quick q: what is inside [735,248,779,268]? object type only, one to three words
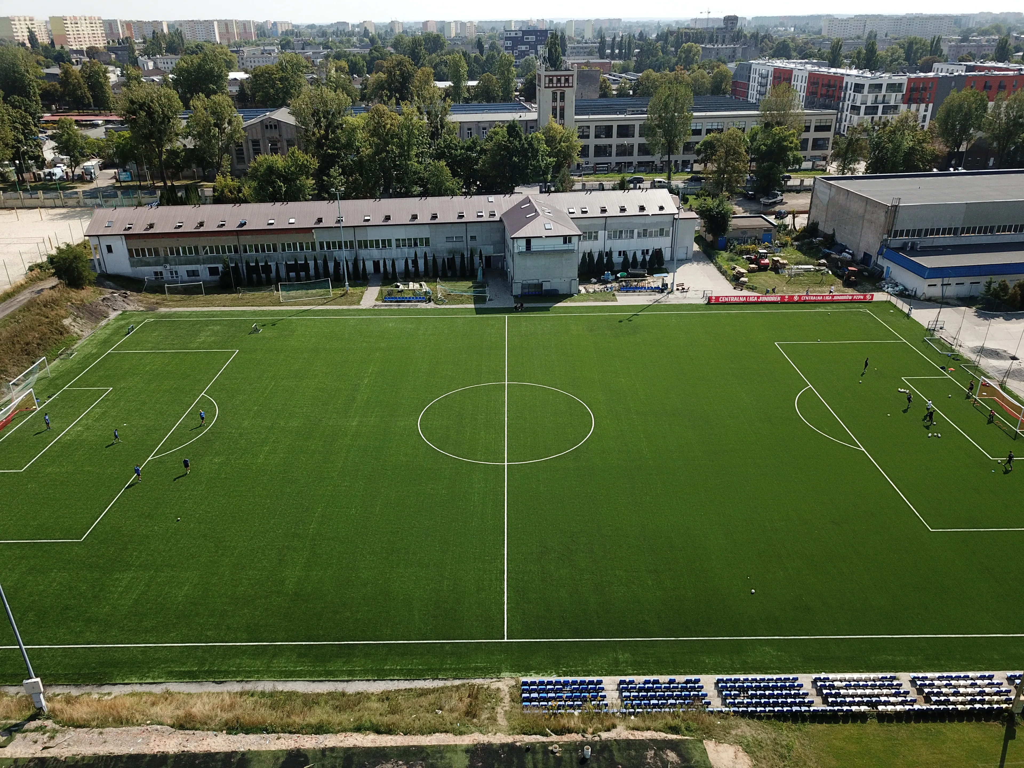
work vehicle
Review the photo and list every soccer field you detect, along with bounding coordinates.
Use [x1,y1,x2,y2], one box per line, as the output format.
[0,301,1024,684]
